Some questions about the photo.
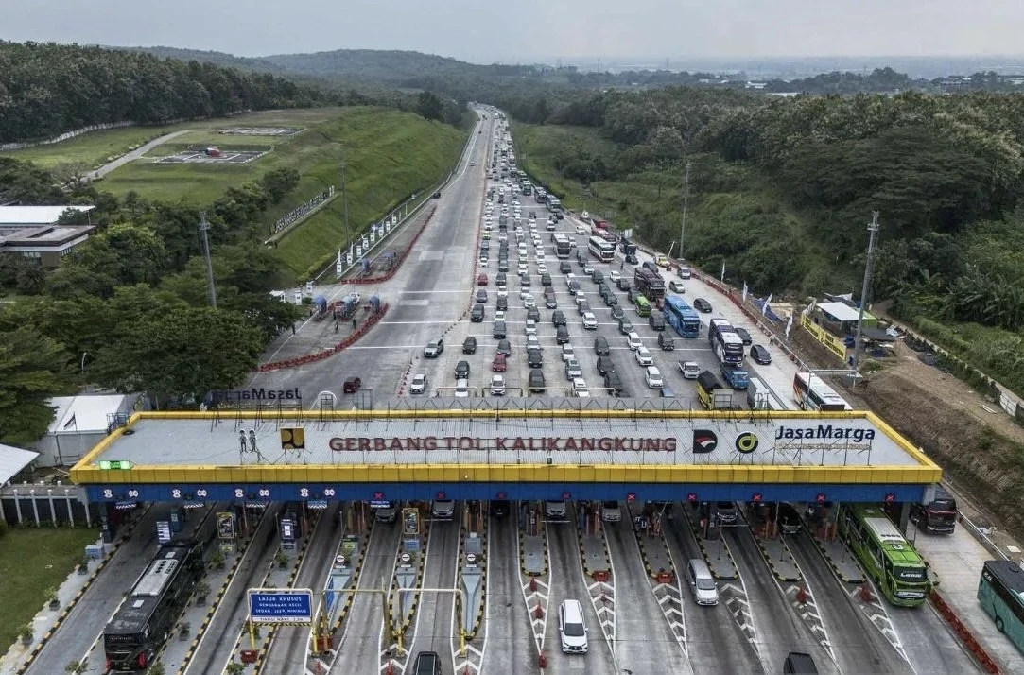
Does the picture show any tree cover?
Yes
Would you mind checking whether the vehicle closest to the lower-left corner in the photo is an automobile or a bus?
bus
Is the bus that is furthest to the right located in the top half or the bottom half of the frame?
bottom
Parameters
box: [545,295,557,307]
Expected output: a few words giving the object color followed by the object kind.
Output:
gray vehicle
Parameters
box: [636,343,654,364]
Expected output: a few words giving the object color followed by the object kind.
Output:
white car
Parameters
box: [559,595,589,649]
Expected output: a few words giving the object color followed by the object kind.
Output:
white car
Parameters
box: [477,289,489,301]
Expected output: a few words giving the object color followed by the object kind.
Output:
gray vehicle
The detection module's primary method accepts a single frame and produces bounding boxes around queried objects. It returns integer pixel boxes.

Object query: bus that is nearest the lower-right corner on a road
[979,561,1024,646]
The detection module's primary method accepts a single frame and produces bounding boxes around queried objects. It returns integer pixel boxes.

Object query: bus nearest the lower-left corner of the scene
[89,527,202,664]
